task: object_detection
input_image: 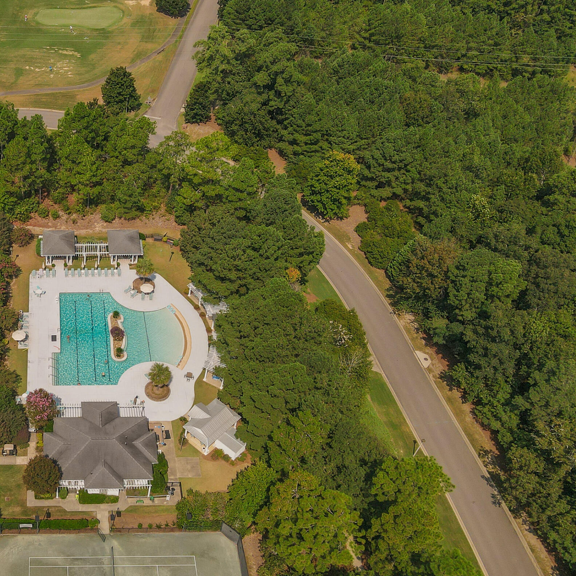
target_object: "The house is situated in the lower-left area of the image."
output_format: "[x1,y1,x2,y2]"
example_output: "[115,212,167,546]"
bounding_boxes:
[43,401,158,498]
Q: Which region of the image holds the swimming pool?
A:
left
